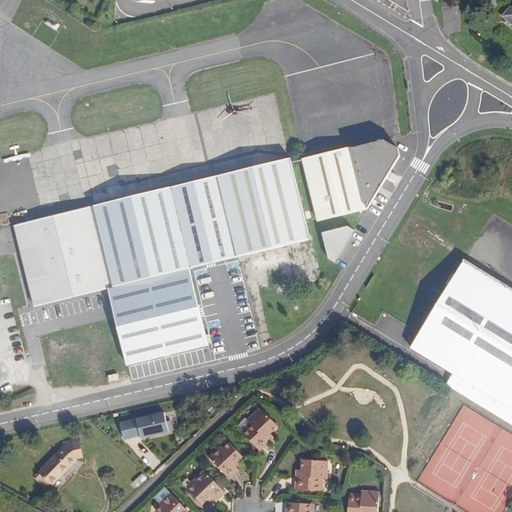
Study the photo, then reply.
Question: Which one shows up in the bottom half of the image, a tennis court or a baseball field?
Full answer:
The feature located in the bottom half of the image is a tennis court.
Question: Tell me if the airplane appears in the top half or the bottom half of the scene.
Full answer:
The top half of the photo is where the airplane is.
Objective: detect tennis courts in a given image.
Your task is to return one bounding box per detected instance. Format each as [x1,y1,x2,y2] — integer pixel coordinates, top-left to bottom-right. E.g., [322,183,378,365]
[418,406,502,504]
[458,429,512,512]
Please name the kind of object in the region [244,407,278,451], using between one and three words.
house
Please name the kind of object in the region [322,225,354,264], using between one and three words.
building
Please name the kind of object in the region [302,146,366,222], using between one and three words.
building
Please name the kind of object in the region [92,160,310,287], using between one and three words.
hangar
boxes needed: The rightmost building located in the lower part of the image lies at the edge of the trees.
[410,259,512,421]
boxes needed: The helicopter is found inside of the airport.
[222,94,252,122]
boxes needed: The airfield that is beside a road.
[0,0,398,258]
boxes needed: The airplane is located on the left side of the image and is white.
[4,144,31,165]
